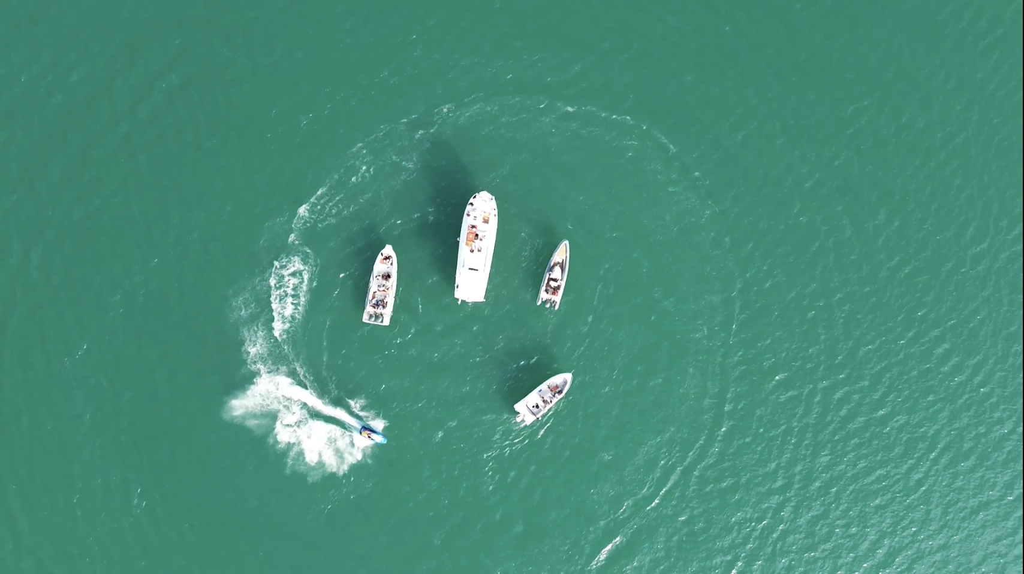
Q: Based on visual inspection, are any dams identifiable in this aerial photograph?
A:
No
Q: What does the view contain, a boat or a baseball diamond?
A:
boat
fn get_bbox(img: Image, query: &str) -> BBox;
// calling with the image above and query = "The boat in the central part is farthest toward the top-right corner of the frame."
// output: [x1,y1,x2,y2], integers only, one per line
[537,239,571,310]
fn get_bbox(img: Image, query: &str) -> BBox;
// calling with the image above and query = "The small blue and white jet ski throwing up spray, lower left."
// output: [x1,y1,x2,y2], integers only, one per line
[358,423,386,443]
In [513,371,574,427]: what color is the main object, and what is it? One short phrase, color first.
white boat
